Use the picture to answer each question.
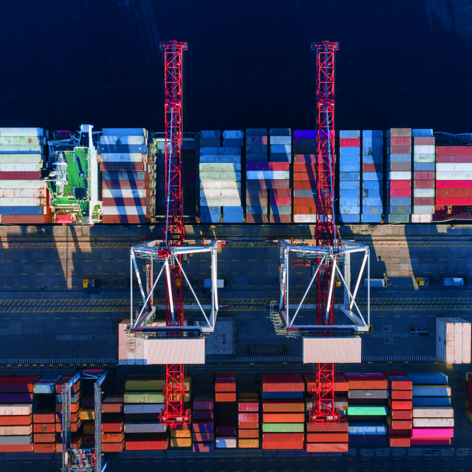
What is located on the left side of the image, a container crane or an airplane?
container crane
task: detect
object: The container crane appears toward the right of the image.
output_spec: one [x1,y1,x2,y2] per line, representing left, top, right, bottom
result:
[256,41,372,423]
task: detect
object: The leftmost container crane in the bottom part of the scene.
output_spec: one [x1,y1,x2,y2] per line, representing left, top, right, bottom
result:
[59,368,116,472]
